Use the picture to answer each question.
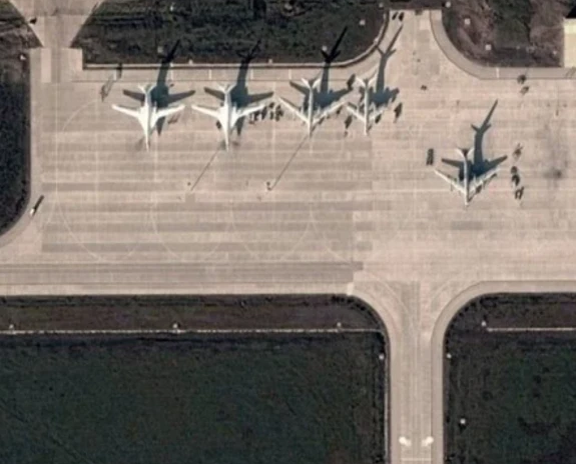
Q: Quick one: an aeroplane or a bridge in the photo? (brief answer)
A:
aeroplane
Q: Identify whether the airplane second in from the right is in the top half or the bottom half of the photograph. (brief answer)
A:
top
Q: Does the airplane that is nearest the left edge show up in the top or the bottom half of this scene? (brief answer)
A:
top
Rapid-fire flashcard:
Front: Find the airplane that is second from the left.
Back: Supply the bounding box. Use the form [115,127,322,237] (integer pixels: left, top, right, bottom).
[191,83,264,150]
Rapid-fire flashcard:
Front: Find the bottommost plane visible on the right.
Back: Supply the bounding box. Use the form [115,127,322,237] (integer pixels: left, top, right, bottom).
[434,149,498,206]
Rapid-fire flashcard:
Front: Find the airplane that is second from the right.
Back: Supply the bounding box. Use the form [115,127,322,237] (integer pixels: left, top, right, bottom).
[346,74,387,134]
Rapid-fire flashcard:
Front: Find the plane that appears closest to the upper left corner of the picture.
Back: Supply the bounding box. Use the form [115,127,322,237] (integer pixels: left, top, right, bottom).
[112,84,184,152]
